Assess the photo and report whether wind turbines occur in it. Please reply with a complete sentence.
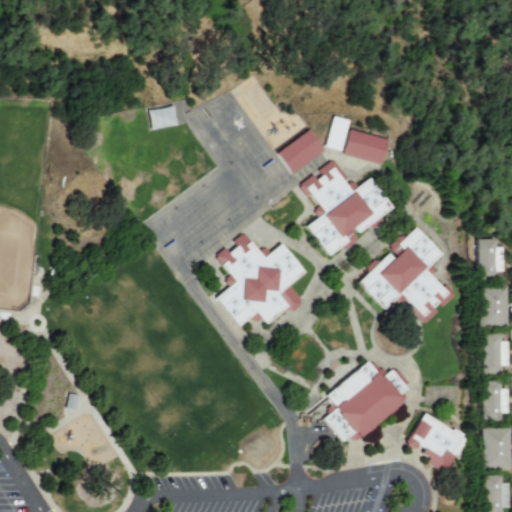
No, this view has no wind turbine in it.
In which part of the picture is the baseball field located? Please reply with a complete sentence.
The baseball field is in the left part of the image.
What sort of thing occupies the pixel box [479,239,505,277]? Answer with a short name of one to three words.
house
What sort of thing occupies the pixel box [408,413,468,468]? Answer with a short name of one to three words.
building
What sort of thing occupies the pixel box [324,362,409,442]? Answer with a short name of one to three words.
building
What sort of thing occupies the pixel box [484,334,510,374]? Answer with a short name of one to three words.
house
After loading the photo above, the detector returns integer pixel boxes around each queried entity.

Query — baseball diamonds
[0,101,47,309]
